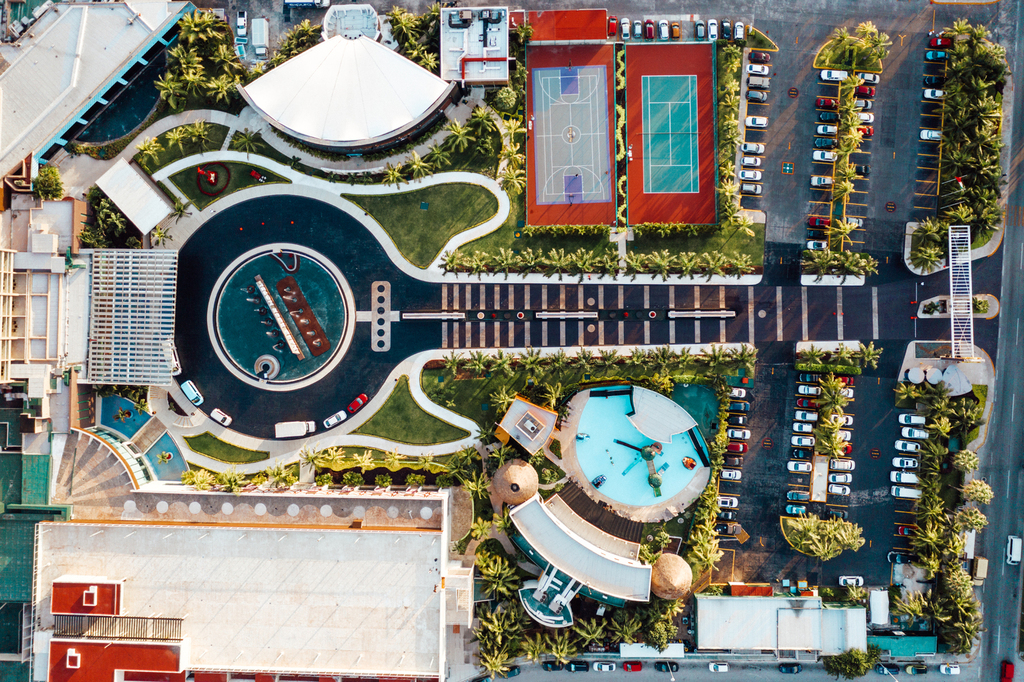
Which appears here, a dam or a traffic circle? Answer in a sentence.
Looking from above, you can make out a traffic circle.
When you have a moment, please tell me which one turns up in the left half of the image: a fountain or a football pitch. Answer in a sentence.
It is a fountain that can be seen in the left half of the image.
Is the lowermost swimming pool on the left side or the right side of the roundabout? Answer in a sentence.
From the viewer's perspective, the lowermost swimming pool falls to the right of the roundabout.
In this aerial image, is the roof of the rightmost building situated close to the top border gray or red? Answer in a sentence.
In this view, the roof of the rightmost building situated close to the top border is red.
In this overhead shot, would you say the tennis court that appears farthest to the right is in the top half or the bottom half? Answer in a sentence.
The tennis court that appears farthest to the right sits in the top half of the picture.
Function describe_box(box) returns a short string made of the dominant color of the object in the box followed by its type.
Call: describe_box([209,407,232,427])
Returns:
white car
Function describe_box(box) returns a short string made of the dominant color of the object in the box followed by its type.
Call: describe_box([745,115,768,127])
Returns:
white vehicle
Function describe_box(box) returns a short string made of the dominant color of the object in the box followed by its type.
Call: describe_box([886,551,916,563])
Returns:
black vehicle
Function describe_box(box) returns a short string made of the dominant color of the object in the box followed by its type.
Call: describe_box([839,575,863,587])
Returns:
white vehicle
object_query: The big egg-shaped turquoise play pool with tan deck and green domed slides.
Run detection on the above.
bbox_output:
[561,385,711,522]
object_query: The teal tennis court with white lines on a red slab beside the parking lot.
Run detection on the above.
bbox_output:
[627,45,716,223]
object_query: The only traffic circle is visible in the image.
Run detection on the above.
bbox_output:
[132,194,444,440]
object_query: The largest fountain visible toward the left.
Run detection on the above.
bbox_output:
[207,242,356,391]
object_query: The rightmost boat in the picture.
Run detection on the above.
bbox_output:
[681,455,696,469]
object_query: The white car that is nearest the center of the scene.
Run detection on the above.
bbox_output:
[324,411,346,428]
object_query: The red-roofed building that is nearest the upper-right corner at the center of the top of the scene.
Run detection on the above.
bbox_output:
[528,9,607,46]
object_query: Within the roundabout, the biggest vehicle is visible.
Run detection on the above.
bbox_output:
[275,420,320,438]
